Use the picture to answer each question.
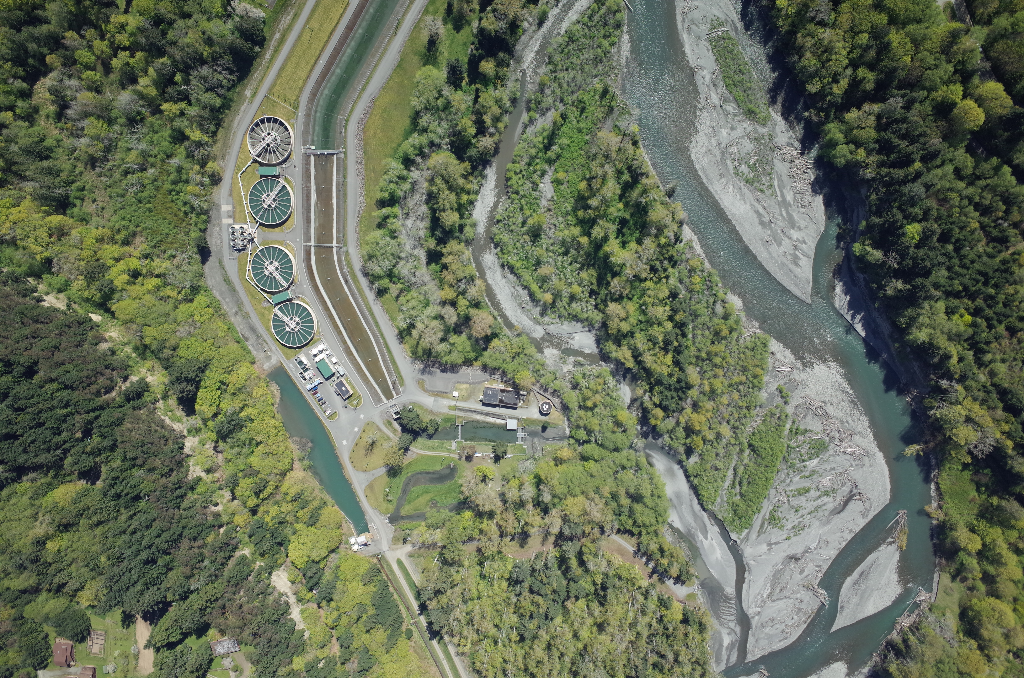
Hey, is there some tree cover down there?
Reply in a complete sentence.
Yes, tree cover shows up in the scene.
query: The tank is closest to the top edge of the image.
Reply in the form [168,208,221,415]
[248,117,295,163]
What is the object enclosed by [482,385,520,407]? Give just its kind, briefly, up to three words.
building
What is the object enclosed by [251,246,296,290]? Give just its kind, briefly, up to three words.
storage tank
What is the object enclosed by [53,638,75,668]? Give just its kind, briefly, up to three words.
house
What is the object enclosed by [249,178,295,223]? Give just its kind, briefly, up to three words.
storage tank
